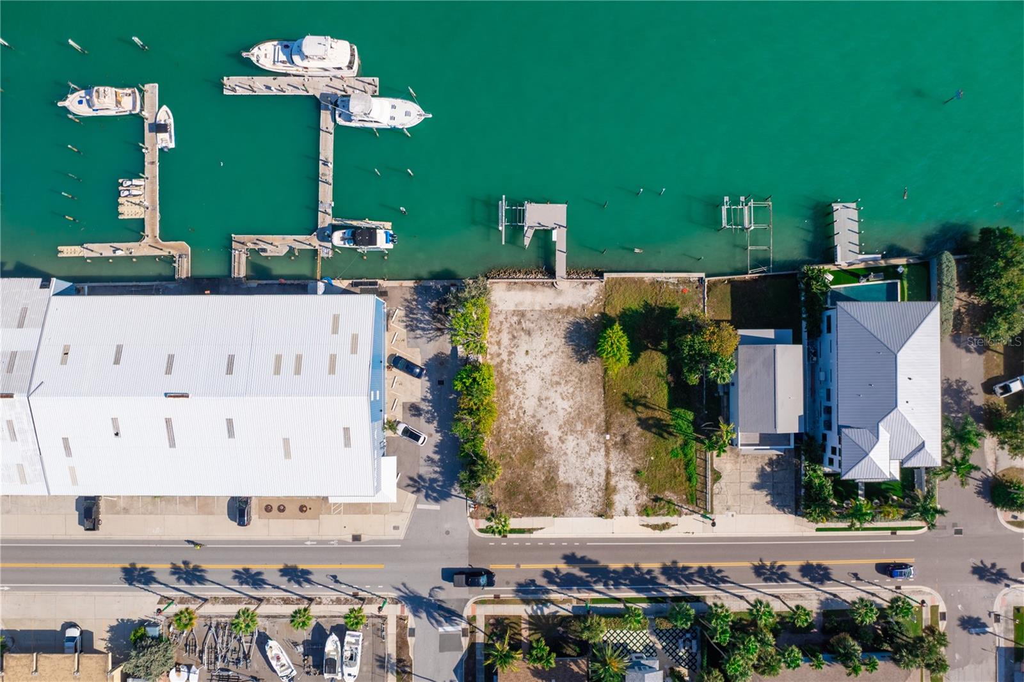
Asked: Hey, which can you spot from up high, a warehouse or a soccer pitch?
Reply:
warehouse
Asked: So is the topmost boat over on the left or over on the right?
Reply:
left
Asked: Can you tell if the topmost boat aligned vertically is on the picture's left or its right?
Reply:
left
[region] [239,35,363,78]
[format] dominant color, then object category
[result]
white boat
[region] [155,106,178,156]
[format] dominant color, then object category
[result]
white boat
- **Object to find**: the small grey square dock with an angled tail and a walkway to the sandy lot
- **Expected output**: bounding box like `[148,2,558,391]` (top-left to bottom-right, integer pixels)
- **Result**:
[524,200,569,279]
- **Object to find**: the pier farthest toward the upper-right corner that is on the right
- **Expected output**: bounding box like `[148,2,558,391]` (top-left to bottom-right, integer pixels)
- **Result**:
[825,199,886,263]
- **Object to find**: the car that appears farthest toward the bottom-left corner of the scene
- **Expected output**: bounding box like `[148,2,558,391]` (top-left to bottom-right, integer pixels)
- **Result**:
[64,623,84,648]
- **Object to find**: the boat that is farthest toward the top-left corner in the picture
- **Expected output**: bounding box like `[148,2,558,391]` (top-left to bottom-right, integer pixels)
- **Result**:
[60,87,143,116]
